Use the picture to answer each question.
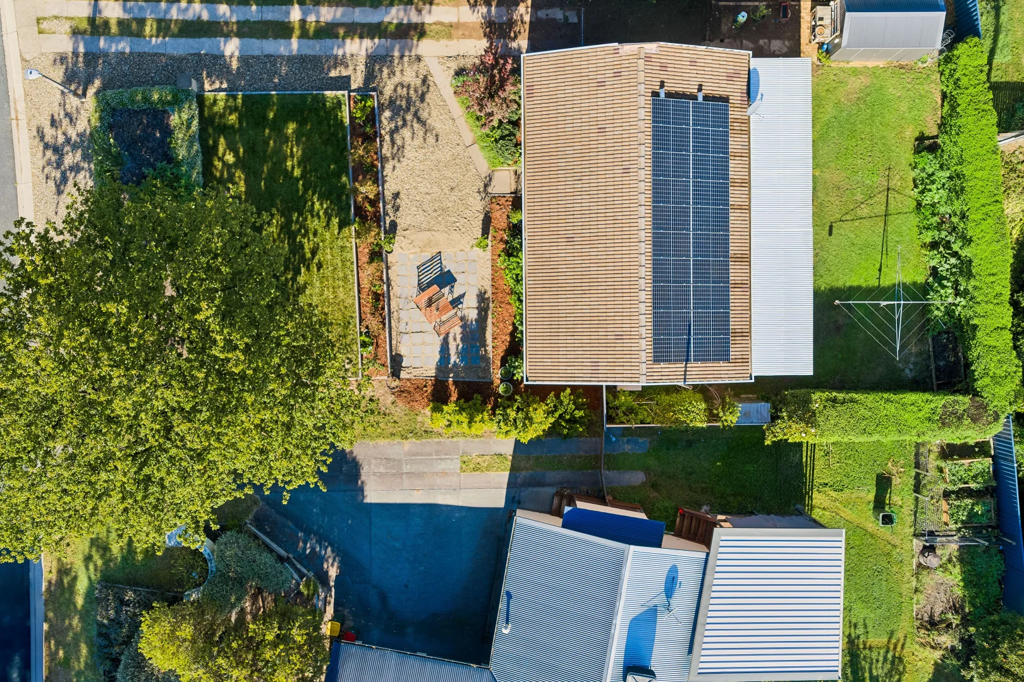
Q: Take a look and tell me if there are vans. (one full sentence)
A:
No, there is no van in the image.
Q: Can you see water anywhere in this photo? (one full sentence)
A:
No, the picture contains no water.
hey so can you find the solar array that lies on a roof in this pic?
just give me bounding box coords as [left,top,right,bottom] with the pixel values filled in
[652,90,730,364]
